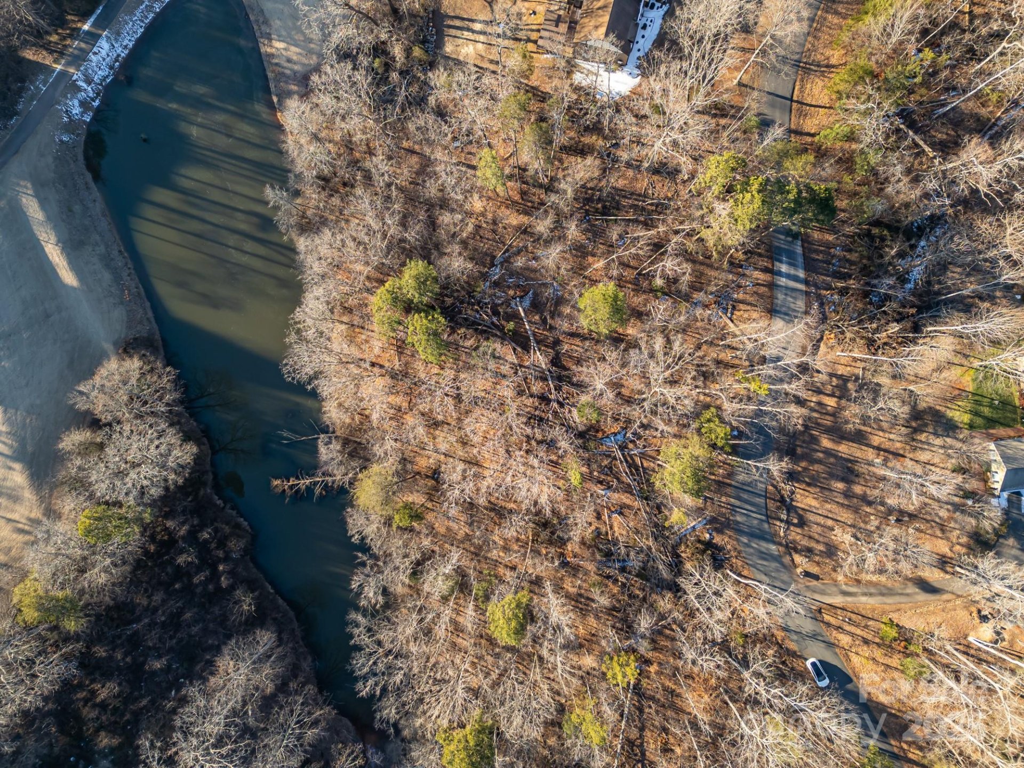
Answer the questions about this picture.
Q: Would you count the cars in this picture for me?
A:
1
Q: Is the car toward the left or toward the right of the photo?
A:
right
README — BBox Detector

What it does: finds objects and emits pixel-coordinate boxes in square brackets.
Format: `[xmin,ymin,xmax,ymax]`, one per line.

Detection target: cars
[806,655,829,687]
